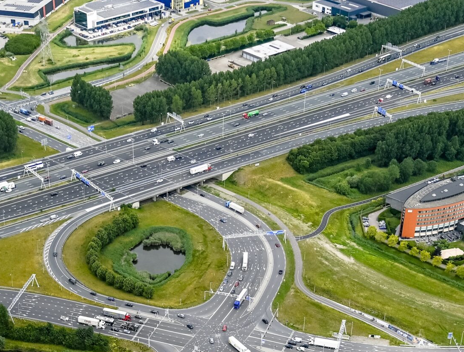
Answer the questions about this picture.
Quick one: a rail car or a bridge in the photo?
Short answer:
bridge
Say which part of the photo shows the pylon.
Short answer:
top left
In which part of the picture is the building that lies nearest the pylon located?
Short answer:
top left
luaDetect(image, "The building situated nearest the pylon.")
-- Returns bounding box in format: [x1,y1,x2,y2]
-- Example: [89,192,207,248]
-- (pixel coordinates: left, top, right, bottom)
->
[0,0,63,25]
